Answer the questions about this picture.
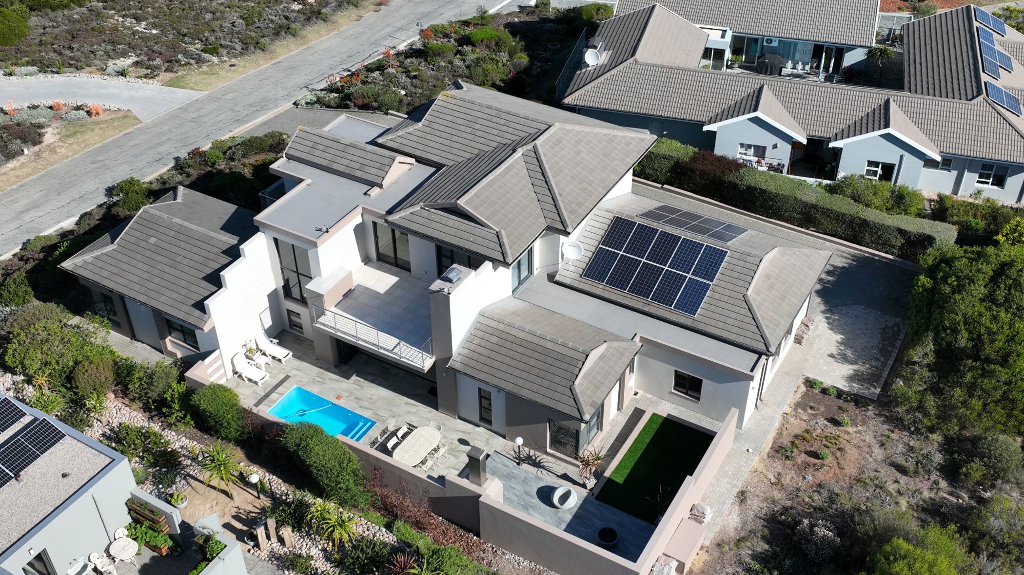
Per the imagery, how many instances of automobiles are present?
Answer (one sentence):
The picture shows no automobiles.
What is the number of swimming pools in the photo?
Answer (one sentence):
The picture shows just 1 swimming pool.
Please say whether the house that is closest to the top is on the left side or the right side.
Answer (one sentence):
The house that is closest to the top is on the right side of the image.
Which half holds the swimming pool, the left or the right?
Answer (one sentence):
It is on the left.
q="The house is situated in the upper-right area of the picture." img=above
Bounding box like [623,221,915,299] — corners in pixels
[562,0,1024,202]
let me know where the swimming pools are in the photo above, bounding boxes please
[268,385,378,443]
